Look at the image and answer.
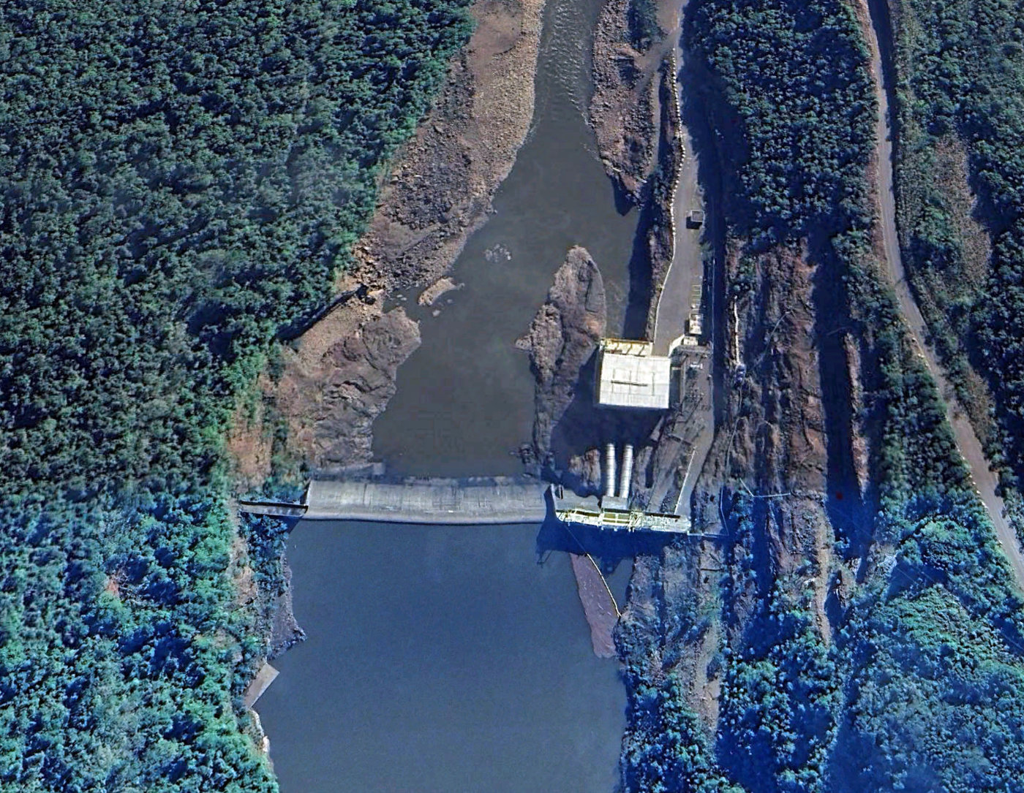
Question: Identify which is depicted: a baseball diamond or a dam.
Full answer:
The one in the frame is a dam.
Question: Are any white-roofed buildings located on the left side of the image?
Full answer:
No, I can find no white-roofed building on the left side of the image.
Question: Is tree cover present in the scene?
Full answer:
Yes, some tree cover is visible.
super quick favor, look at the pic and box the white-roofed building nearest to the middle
[592,339,684,410]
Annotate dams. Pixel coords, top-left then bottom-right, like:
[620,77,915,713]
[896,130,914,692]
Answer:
[304,473,554,524]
